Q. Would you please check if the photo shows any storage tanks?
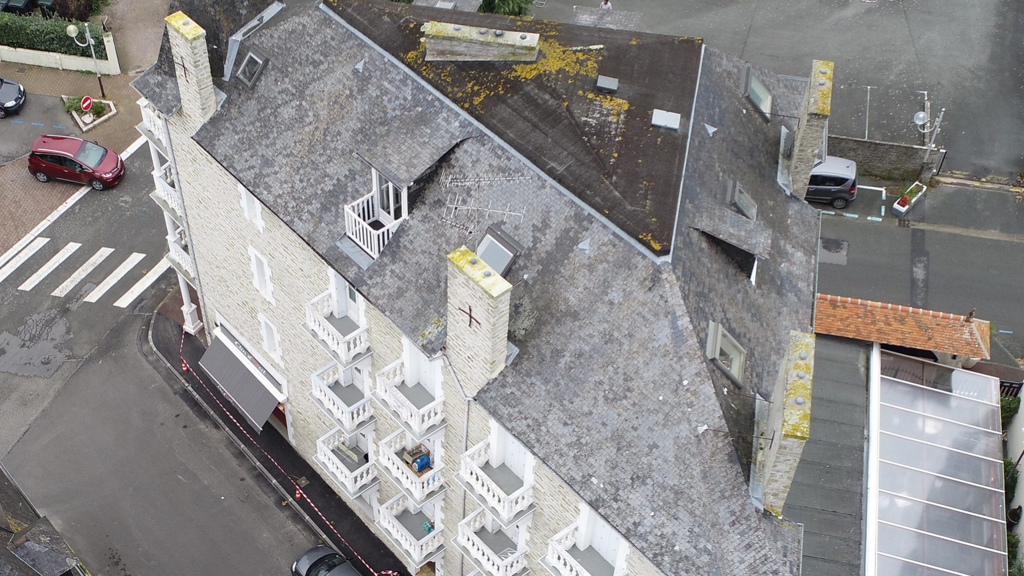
No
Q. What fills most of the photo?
buildings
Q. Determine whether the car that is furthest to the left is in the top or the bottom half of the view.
top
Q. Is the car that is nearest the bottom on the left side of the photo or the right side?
left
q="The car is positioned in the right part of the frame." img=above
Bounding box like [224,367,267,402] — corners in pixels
[808,154,859,208]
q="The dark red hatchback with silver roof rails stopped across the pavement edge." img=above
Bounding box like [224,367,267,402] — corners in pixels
[21,129,126,189]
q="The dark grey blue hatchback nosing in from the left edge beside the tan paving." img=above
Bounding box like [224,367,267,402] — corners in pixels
[0,76,29,117]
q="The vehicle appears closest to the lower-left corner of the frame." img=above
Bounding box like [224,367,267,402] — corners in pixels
[286,539,365,576]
